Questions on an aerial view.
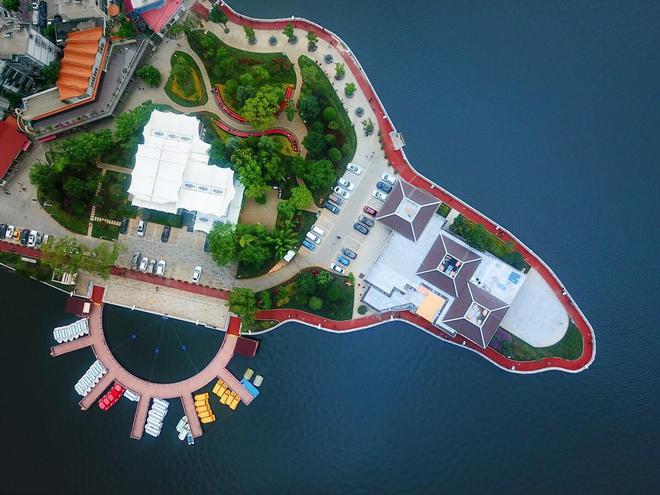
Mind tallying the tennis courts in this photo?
none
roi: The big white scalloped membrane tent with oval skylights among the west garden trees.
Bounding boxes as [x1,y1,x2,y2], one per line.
[128,109,238,234]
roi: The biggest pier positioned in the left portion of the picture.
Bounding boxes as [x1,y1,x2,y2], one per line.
[50,301,254,439]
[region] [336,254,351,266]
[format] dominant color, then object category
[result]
blue vehicle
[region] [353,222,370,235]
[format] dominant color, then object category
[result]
blue vehicle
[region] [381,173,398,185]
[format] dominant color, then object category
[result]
white vehicle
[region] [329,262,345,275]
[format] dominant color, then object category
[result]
white vehicle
